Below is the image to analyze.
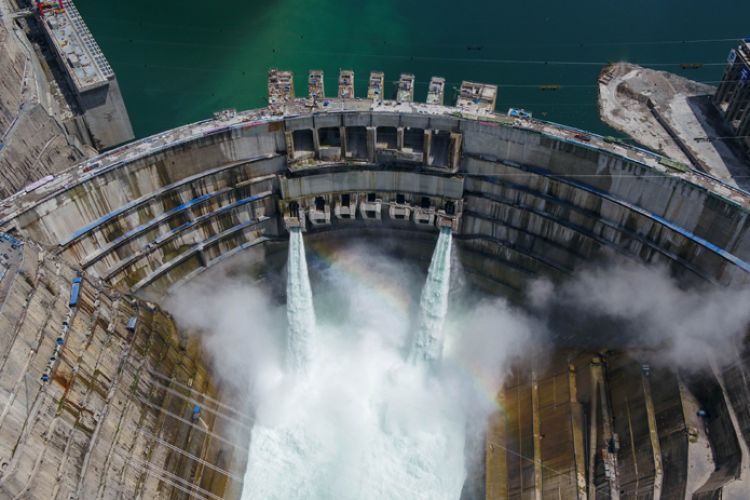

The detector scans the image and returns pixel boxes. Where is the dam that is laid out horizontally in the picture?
[0,70,750,352]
